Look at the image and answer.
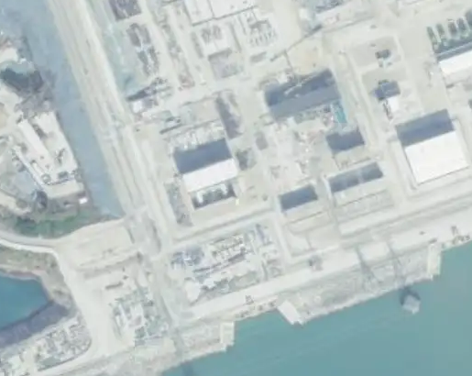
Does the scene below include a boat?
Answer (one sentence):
No, there appears to be no boat in this shot.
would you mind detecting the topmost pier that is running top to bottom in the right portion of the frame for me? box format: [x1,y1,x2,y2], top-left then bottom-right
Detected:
[429,248,442,279]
